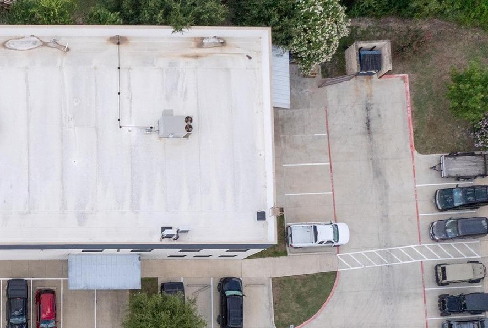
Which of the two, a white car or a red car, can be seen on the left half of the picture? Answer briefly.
red car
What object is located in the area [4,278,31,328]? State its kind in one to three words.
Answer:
truck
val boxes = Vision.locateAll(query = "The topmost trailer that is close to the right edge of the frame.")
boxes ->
[425,149,488,183]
